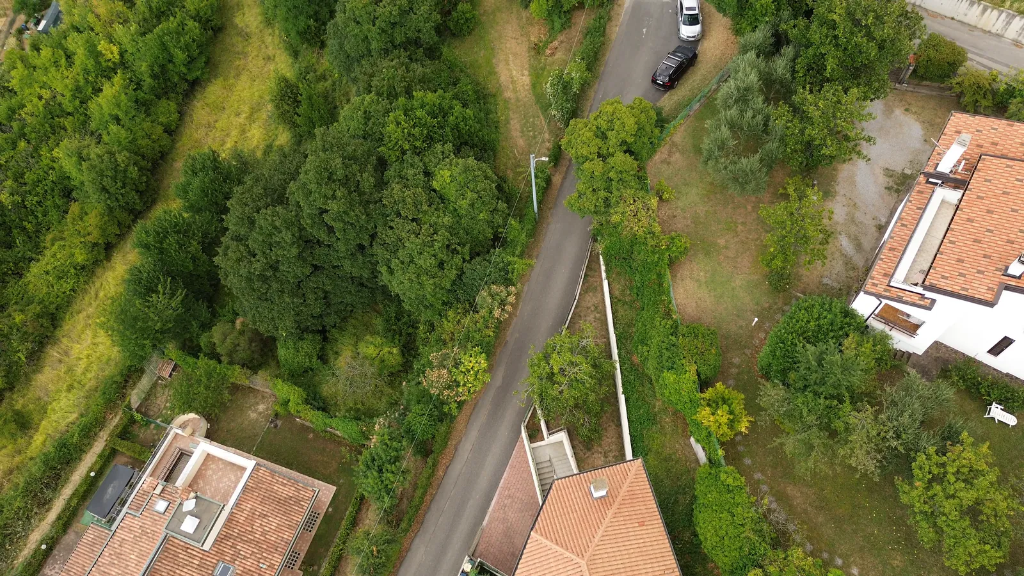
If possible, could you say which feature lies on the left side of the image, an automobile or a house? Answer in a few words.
house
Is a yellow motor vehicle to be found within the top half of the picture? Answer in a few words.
No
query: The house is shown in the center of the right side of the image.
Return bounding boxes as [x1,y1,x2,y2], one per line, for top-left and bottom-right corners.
[851,110,1024,381]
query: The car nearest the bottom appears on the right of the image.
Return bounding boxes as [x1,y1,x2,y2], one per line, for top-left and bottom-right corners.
[653,45,700,90]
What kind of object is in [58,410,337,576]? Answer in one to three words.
house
